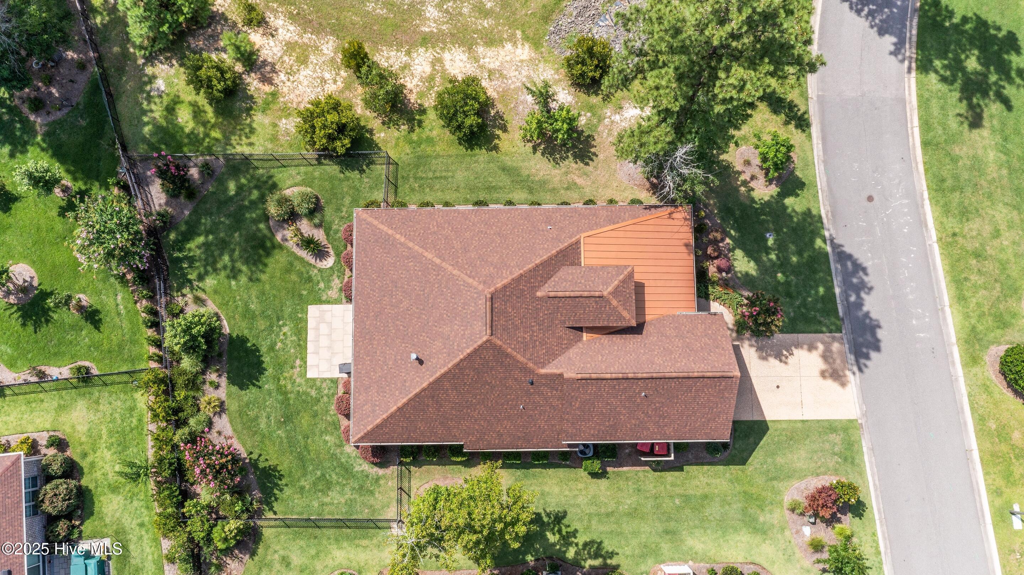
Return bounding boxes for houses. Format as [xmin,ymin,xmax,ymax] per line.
[349,203,739,452]
[0,450,51,575]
